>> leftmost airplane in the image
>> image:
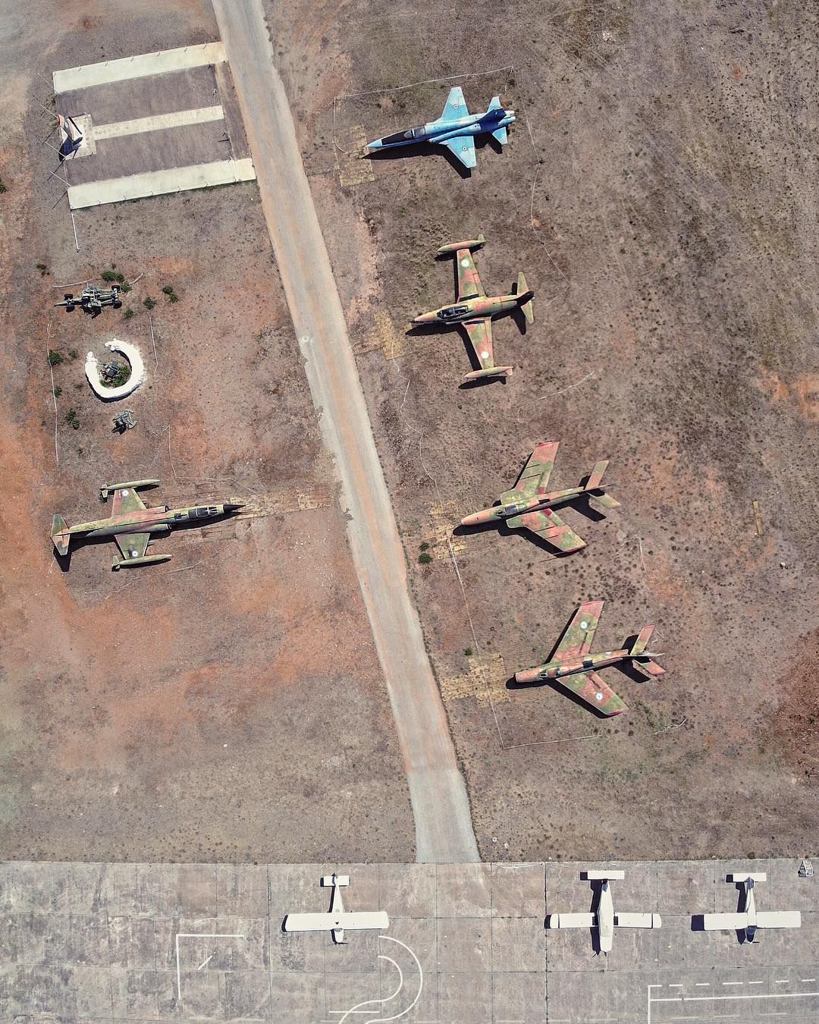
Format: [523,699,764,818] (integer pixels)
[51,479,245,570]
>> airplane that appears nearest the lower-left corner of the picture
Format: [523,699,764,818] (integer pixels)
[285,876,389,943]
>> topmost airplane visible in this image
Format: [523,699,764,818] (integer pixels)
[368,85,516,169]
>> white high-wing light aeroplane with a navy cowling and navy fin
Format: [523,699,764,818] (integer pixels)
[706,873,804,943]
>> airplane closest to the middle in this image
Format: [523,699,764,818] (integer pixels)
[461,438,620,558]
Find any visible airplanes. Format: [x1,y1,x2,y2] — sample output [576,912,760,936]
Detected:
[285,876,389,943]
[706,873,804,943]
[51,479,245,570]
[413,232,537,377]
[549,871,662,953]
[514,597,665,714]
[461,438,620,558]
[368,85,516,169]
